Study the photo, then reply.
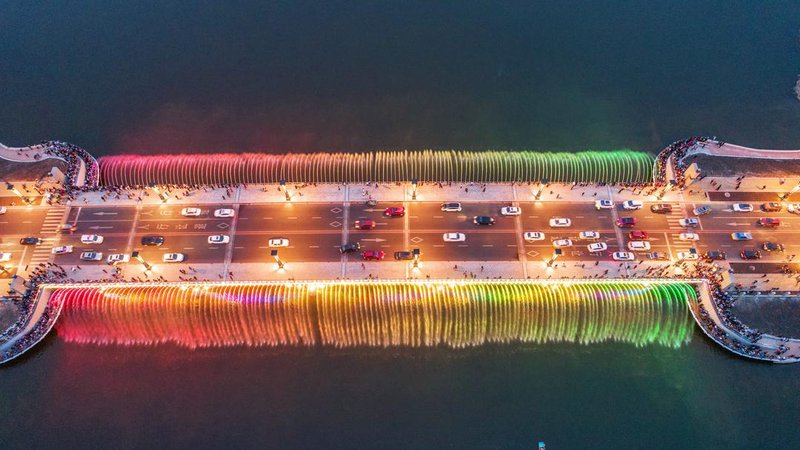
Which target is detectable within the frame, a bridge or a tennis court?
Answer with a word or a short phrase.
bridge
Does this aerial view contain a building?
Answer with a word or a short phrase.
No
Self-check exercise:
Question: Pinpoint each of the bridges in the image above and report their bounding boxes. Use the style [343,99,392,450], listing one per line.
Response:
[45,181,705,296]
